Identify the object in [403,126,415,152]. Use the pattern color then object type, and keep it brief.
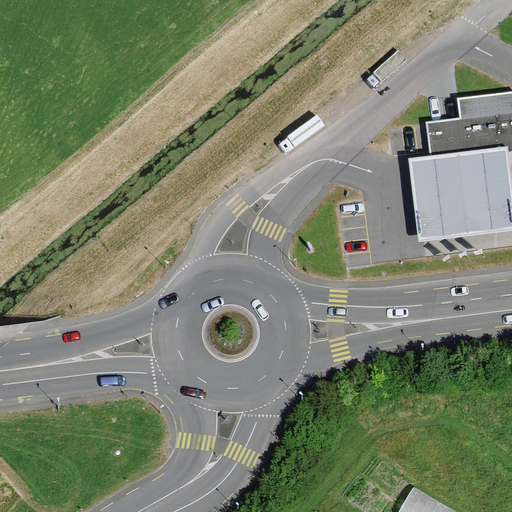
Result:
black vehicle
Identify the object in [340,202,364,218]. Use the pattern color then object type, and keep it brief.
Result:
white car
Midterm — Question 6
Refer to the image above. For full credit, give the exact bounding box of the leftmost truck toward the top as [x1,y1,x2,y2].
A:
[277,114,324,158]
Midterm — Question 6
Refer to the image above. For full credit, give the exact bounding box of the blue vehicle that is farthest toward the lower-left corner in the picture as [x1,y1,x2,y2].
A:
[98,376,126,388]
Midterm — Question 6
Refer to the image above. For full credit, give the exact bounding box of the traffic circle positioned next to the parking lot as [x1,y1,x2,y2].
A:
[112,200,362,462]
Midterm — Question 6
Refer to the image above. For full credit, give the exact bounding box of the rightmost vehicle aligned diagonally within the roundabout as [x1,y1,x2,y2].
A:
[252,300,269,322]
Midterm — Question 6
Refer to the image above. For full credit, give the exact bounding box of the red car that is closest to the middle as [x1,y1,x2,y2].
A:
[344,241,367,253]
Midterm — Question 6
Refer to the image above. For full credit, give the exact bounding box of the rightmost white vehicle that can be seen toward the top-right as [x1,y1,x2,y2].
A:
[429,96,442,121]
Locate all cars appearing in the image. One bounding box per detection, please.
[62,332,81,342]
[252,300,269,322]
[181,386,206,400]
[344,241,367,253]
[403,126,415,152]
[158,293,180,309]
[445,98,456,120]
[328,306,348,317]
[340,202,364,218]
[429,96,442,121]
[450,286,469,297]
[386,308,408,319]
[502,314,512,325]
[202,297,224,312]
